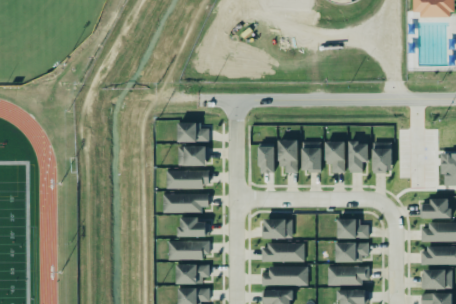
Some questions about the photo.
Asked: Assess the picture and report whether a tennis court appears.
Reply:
No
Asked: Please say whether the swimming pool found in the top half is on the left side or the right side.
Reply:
right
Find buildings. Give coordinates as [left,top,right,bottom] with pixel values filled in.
[420,198,452,218]
[421,245,456,265]
[324,140,346,172]
[328,265,370,286]
[336,289,366,304]
[258,144,275,172]
[336,218,370,239]
[262,289,294,304]
[348,140,368,172]
[412,0,454,17]
[421,222,456,242]
[168,240,210,260]
[262,242,306,262]
[176,263,210,284]
[277,139,298,172]
[178,145,206,166]
[421,268,452,289]
[178,286,210,304]
[334,242,370,262]
[162,191,210,213]
[372,142,393,172]
[262,266,309,286]
[176,216,206,237]
[176,122,210,142]
[421,292,452,304]
[166,170,210,189]
[301,142,322,172]
[262,218,292,239]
